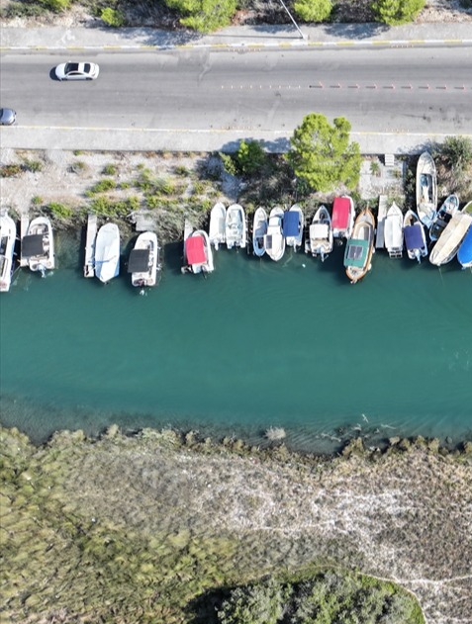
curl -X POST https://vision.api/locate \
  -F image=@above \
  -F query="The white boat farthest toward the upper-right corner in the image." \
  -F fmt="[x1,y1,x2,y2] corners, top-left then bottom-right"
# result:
[417,159,438,230]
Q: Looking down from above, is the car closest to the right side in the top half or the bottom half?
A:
top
